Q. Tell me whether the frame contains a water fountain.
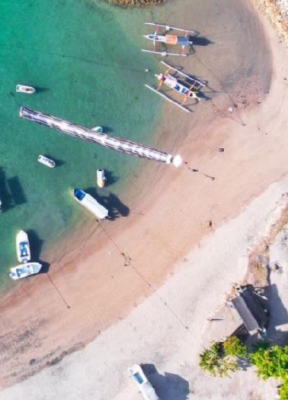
No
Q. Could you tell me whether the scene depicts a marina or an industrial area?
marina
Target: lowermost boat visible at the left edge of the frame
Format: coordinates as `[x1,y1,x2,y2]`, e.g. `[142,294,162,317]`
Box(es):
[10,264,42,280]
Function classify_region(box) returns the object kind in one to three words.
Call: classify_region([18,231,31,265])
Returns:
boat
